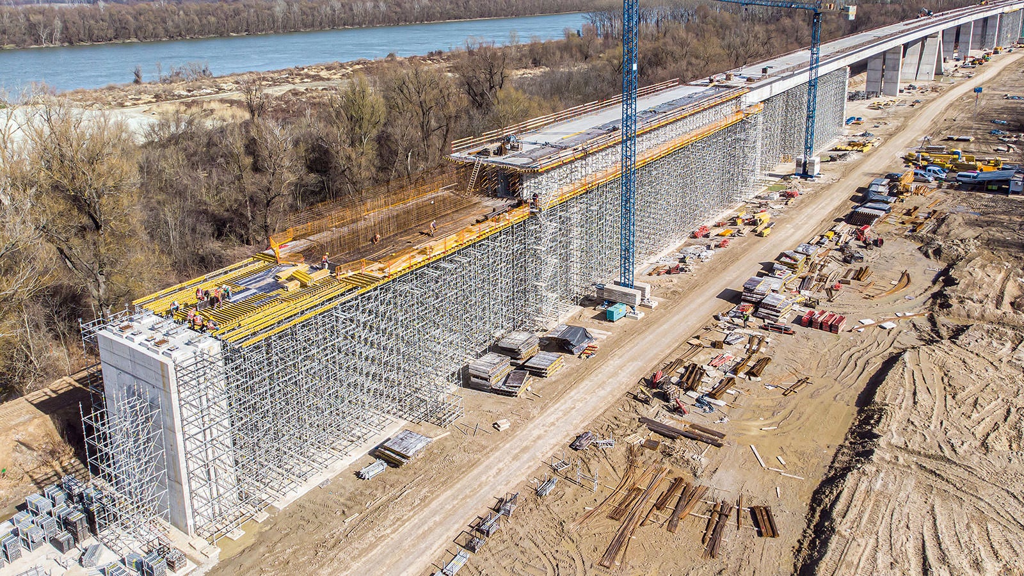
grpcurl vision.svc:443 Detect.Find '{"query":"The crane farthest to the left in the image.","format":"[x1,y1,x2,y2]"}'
[591,0,660,317]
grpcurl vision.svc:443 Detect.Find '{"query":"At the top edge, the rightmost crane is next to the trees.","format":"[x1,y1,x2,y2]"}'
[710,0,859,178]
